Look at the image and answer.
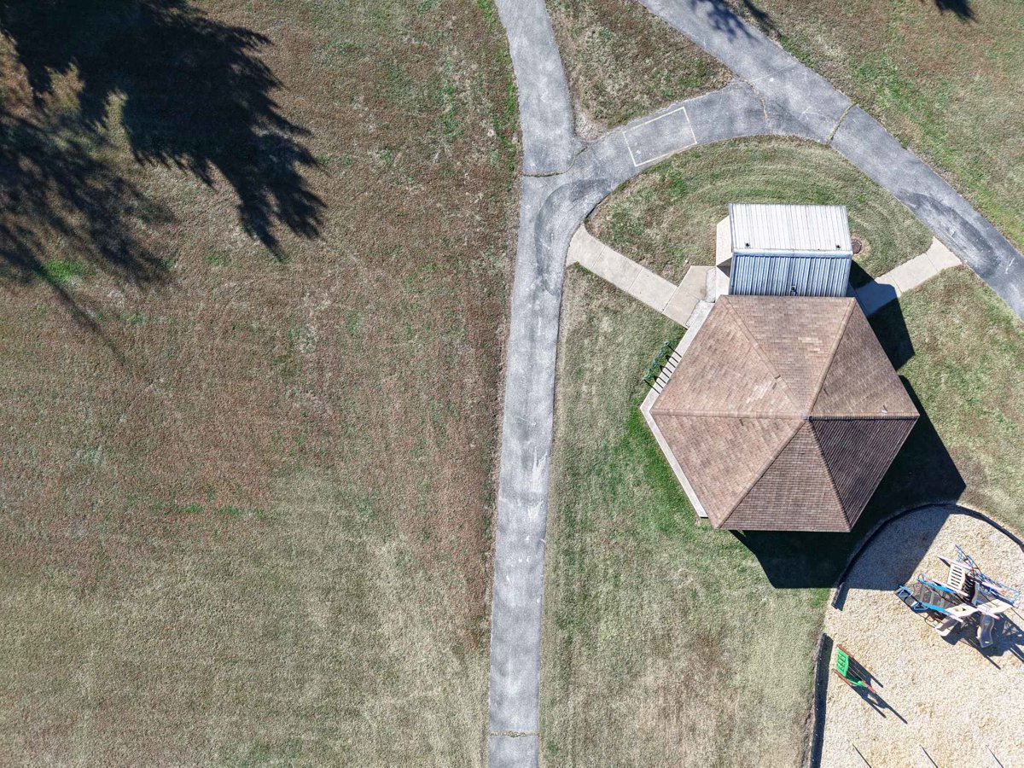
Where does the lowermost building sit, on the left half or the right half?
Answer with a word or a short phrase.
right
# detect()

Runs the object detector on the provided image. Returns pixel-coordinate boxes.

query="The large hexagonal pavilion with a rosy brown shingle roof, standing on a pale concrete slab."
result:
[640,294,921,533]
